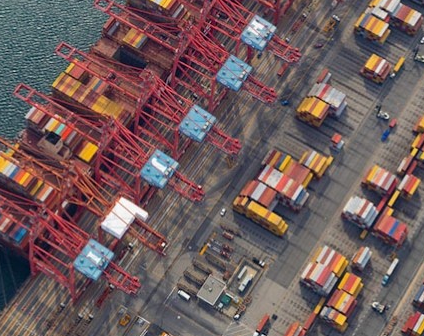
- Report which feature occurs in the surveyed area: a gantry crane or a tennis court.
gantry crane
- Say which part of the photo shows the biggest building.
bottom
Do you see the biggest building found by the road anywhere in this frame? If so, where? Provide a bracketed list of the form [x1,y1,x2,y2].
[197,272,228,305]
